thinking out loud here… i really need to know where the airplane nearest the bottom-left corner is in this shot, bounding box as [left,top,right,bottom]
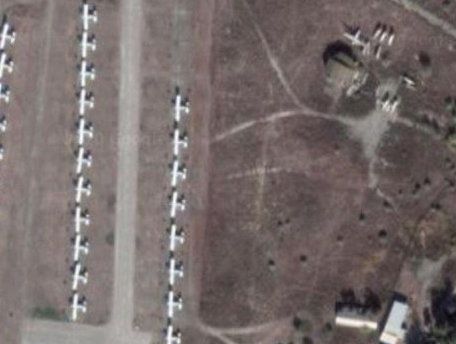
[70,295,86,321]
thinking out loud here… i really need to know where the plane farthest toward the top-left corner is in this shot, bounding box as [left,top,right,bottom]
[0,23,15,48]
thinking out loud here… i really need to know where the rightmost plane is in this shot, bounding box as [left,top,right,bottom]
[344,30,365,45]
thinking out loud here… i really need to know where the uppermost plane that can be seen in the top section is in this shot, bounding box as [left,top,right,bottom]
[80,4,96,30]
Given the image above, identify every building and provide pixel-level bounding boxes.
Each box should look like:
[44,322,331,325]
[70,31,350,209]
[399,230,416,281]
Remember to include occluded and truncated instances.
[379,301,408,344]
[335,311,377,328]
